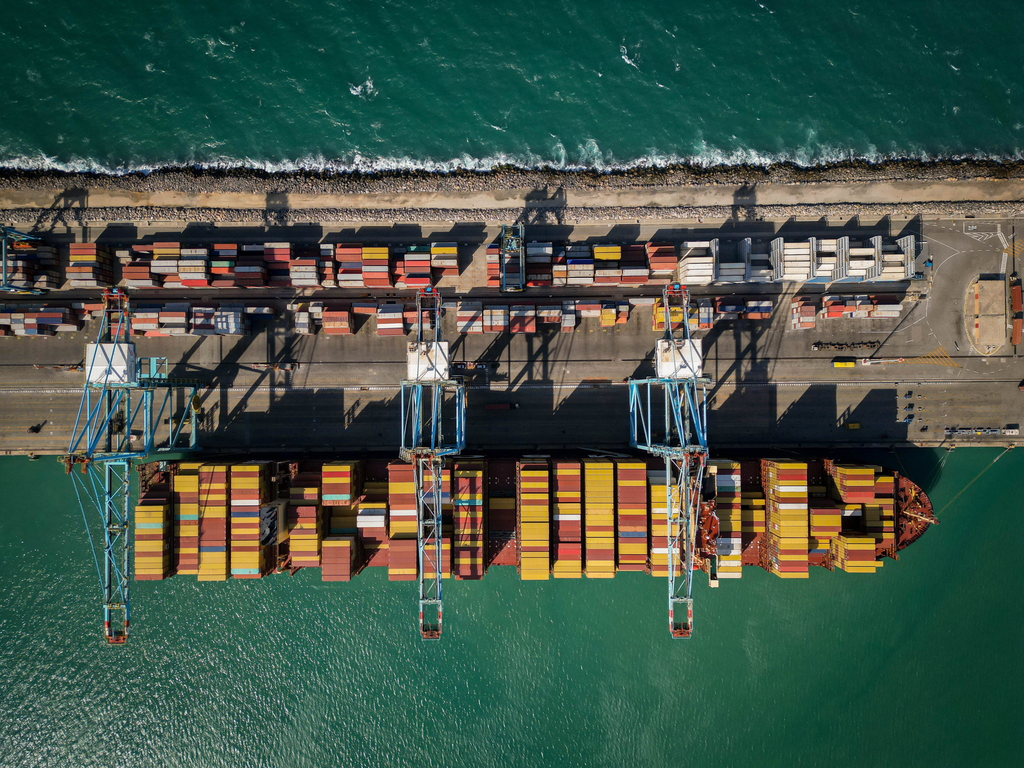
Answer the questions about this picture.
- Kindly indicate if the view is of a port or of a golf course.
port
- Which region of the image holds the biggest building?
right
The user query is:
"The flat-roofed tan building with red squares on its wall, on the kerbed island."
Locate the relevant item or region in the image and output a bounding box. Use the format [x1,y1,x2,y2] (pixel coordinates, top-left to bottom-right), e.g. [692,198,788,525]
[973,280,1008,345]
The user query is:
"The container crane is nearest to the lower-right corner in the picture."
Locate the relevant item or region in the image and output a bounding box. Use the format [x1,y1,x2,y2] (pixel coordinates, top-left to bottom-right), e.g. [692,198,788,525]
[618,281,711,641]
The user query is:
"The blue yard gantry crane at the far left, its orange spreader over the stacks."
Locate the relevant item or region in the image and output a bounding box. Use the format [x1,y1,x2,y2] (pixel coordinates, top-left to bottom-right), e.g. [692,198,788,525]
[0,225,45,302]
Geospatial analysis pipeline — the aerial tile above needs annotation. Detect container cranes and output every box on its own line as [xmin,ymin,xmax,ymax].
[397,283,477,643]
[618,281,711,641]
[497,221,526,298]
[62,285,210,645]
[0,225,45,302]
